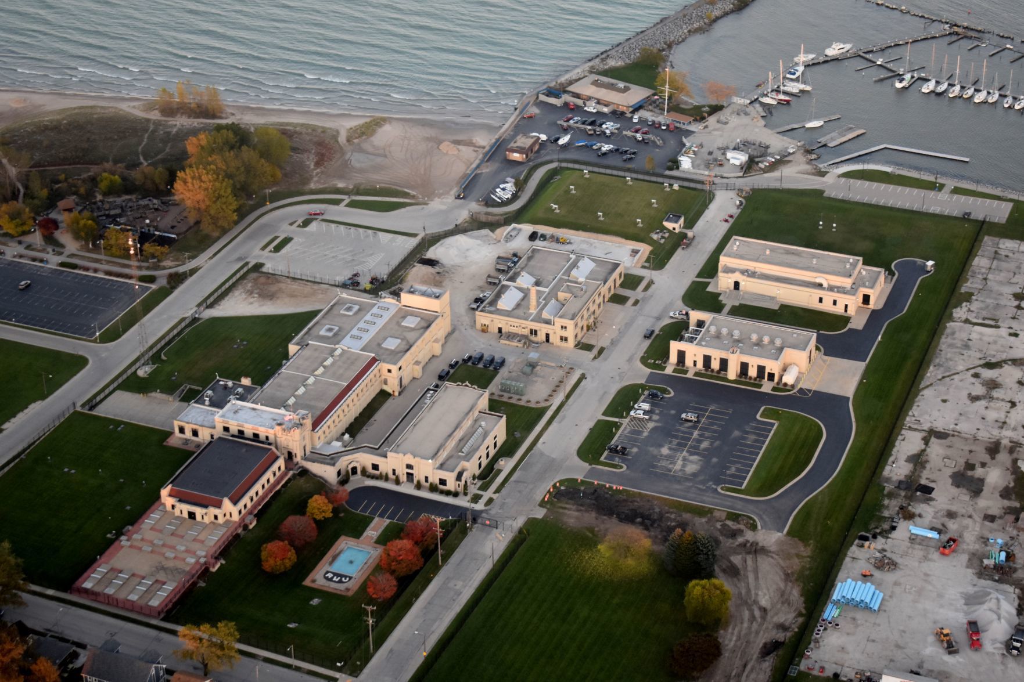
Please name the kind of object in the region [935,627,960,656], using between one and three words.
work vehicle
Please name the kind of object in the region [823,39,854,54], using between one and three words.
boat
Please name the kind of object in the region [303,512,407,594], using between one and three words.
fountain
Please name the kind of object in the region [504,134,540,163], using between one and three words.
building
